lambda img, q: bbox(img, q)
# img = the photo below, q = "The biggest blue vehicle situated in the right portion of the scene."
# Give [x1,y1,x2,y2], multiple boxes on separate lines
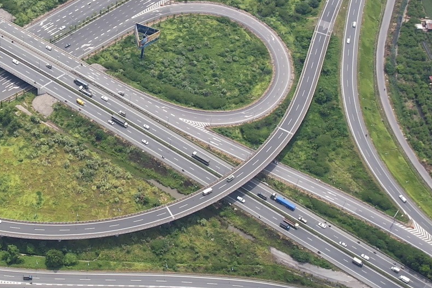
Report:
[272,194,297,211]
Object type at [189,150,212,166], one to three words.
vehicle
